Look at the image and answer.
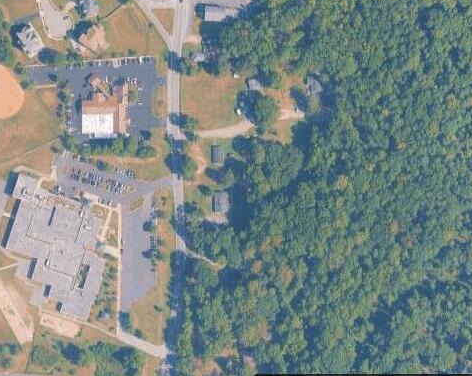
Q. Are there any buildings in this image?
Yes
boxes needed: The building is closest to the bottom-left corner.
[6,173,106,321]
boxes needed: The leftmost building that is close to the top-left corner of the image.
[17,26,42,55]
